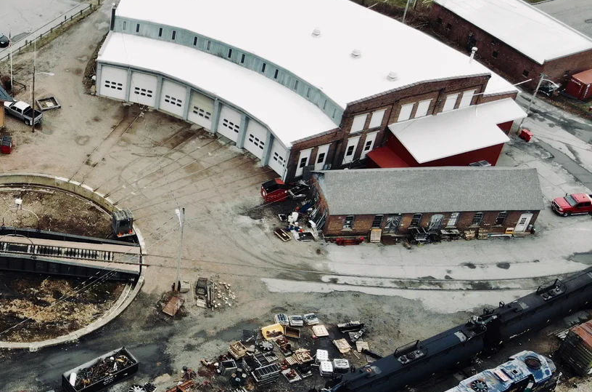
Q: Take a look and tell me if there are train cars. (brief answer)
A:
Yes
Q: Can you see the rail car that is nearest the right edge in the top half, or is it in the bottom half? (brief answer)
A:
bottom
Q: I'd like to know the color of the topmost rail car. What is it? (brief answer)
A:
black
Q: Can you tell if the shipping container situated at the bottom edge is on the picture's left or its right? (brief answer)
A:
left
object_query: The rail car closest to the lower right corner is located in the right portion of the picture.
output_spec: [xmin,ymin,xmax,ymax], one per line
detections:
[558,319,592,373]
